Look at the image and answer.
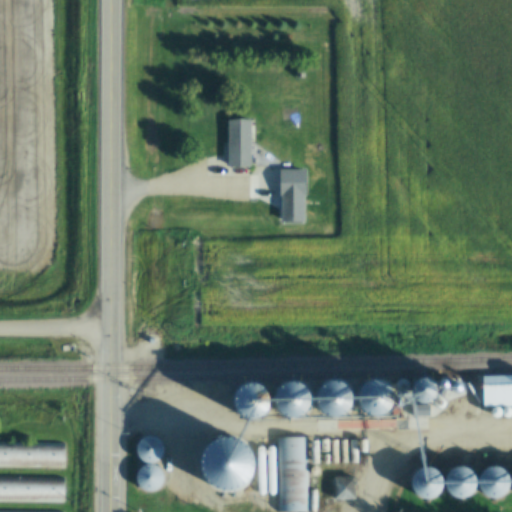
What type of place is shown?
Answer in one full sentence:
What you see here is an industrial area.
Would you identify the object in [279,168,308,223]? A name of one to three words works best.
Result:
house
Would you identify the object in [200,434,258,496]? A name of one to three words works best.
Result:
silo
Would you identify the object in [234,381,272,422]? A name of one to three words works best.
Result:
silo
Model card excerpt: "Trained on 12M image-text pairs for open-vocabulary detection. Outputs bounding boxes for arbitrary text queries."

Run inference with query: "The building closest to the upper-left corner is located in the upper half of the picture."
[229,119,252,167]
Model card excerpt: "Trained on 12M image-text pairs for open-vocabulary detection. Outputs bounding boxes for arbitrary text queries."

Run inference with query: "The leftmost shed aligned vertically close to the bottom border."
[278,436,309,512]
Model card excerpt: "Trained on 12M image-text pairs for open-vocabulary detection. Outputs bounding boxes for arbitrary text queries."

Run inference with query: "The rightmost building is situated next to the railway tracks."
[483,376,512,404]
